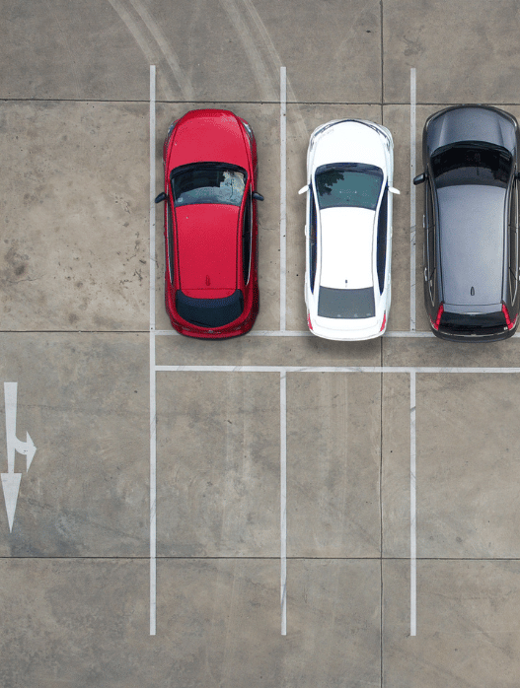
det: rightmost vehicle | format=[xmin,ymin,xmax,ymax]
[414,105,520,342]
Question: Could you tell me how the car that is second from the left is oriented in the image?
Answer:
from top to bottom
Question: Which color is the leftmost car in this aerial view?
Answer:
red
